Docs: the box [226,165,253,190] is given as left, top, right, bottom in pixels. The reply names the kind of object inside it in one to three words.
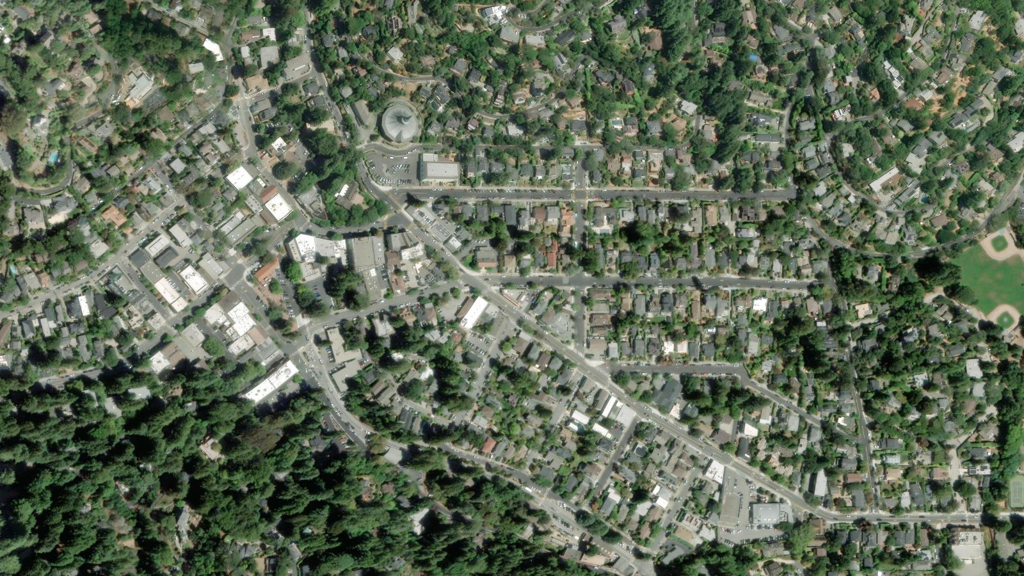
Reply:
building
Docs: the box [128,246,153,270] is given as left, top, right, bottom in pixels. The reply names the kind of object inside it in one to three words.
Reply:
building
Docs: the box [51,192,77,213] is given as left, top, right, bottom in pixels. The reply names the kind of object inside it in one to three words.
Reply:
house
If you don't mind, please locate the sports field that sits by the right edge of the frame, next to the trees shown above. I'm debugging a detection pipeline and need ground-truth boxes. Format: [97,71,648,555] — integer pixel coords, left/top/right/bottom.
[949,234,1024,318]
